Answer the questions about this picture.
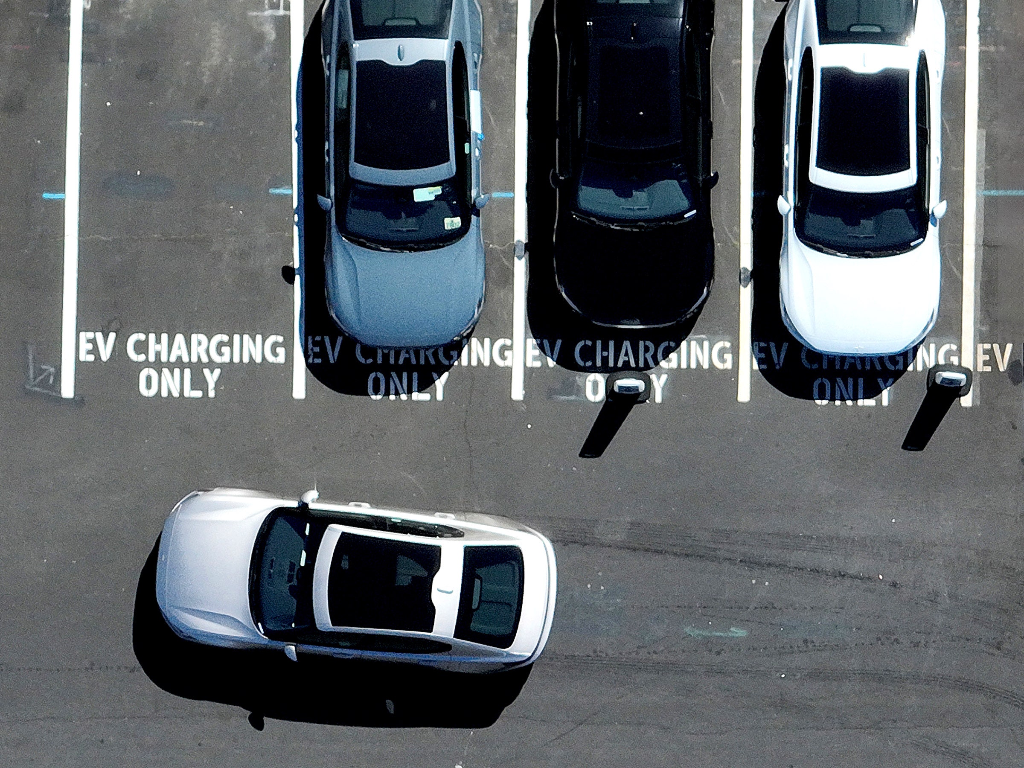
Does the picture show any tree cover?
No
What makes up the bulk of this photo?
paved ground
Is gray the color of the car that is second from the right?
No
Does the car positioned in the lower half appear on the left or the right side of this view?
left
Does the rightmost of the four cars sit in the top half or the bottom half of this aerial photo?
top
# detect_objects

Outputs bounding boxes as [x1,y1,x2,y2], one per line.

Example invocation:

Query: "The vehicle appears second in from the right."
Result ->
[547,0,721,329]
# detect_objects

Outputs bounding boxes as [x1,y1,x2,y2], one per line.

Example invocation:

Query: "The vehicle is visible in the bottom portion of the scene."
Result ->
[154,485,560,674]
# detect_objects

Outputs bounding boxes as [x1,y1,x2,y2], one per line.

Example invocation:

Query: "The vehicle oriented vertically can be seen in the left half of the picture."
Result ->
[317,0,490,349]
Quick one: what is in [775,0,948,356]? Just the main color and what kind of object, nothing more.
white car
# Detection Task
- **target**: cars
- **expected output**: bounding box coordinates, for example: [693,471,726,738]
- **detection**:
[317,0,490,349]
[547,0,721,329]
[775,0,948,356]
[154,485,560,674]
